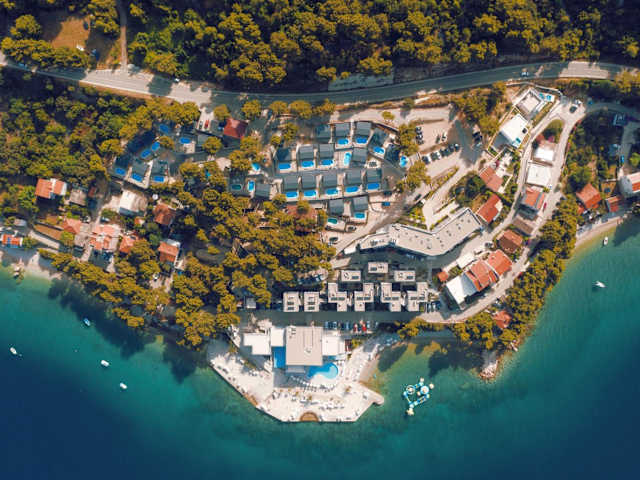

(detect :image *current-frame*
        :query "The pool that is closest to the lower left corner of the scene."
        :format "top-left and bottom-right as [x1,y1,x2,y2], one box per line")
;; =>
[272,346,287,368]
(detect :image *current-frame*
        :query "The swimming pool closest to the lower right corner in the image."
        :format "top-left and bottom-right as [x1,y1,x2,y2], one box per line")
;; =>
[306,361,338,379]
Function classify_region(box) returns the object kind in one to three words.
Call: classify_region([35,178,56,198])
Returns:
house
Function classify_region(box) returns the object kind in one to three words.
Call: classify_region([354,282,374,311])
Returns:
building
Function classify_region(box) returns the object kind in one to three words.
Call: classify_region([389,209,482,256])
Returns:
building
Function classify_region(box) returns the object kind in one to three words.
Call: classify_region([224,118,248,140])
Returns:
house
